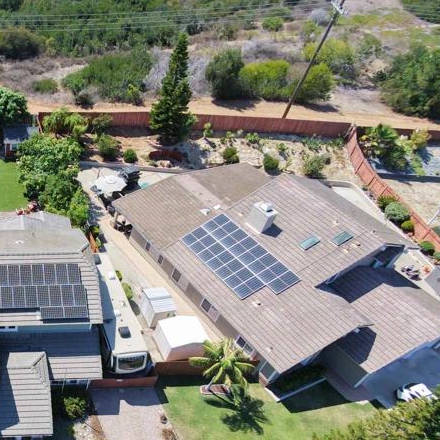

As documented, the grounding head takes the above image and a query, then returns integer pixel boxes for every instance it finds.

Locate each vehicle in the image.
[387,368,440,406]
[92,254,153,388]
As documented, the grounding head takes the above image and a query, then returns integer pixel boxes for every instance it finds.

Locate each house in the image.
[0,211,103,440]
[107,163,440,385]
